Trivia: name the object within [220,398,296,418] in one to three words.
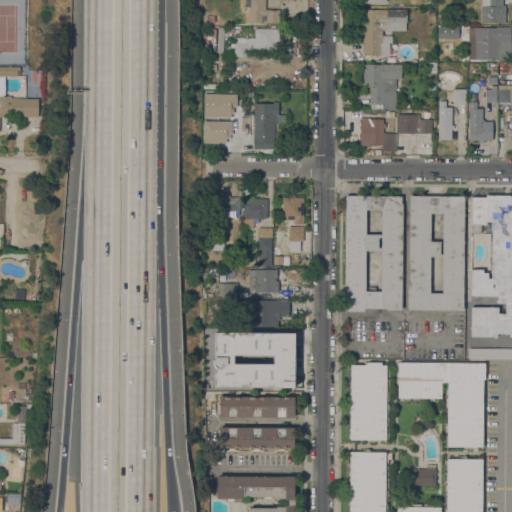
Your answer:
house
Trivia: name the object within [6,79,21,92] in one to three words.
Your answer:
swimming pool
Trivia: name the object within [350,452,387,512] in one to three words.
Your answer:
building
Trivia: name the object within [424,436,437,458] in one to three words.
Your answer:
swimming pool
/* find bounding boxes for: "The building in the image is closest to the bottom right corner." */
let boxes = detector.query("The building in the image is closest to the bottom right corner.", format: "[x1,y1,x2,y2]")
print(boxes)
[448,459,485,512]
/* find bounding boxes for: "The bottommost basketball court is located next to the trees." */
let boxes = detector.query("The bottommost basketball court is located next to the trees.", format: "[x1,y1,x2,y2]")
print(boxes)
[23,67,41,98]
